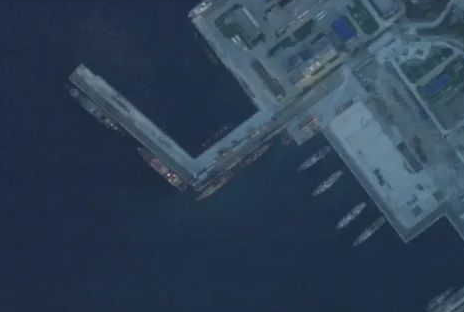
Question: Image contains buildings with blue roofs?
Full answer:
Yes, a building with a blue roof appears in the view.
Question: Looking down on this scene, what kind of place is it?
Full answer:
It's a port.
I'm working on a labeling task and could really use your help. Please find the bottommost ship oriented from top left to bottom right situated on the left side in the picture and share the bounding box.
[138,147,189,193]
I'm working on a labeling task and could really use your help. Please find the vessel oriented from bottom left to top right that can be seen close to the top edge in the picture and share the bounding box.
[188,0,214,15]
